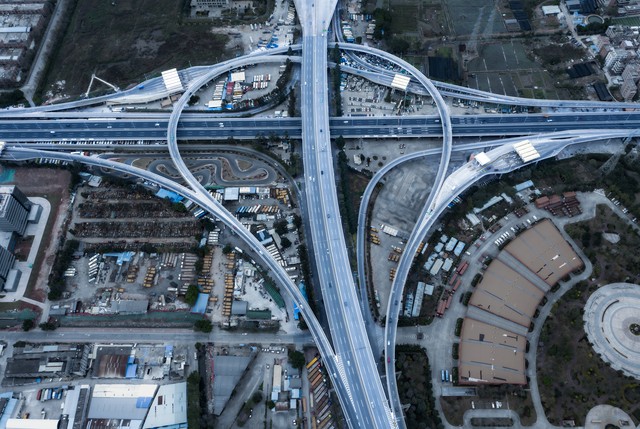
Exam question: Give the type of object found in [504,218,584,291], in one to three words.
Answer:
building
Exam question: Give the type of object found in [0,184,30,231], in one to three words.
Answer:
building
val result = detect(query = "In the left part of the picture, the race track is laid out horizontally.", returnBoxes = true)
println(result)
[95,151,287,191]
